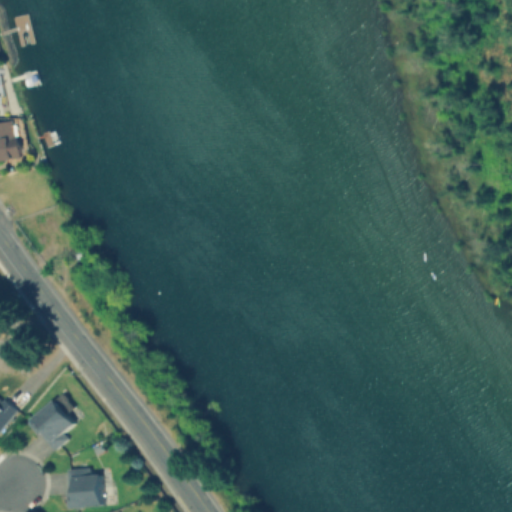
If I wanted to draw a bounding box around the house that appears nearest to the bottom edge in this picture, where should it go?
[66,468,107,510]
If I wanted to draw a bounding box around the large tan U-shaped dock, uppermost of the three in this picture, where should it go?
[8,14,36,47]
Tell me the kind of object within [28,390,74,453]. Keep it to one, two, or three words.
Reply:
house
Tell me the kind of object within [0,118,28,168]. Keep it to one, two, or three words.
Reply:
house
